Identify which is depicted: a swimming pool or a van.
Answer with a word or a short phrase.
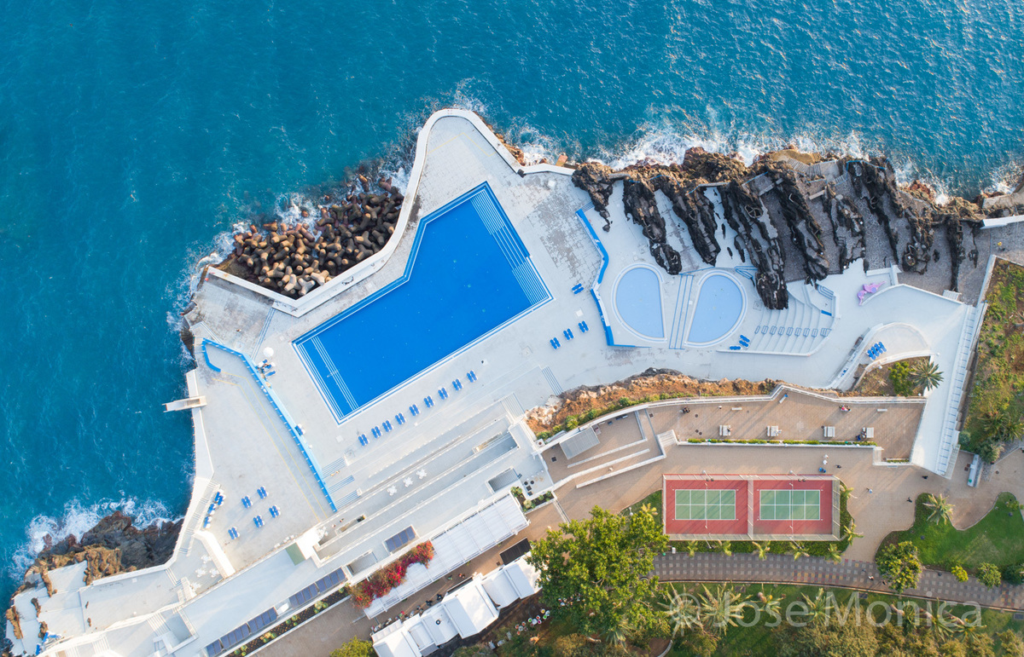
swimming pool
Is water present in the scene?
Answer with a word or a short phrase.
Yes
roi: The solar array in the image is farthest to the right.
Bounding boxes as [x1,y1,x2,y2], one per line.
[386,528,415,552]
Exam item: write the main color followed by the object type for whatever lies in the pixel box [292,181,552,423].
blue swimming pool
